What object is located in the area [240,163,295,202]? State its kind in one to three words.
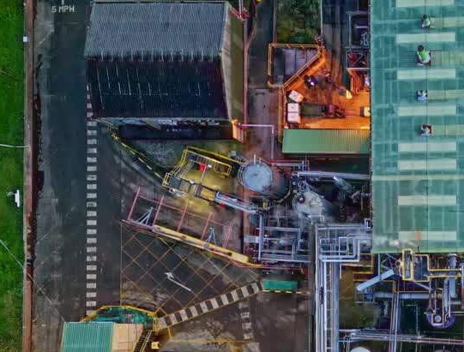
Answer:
storage tank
